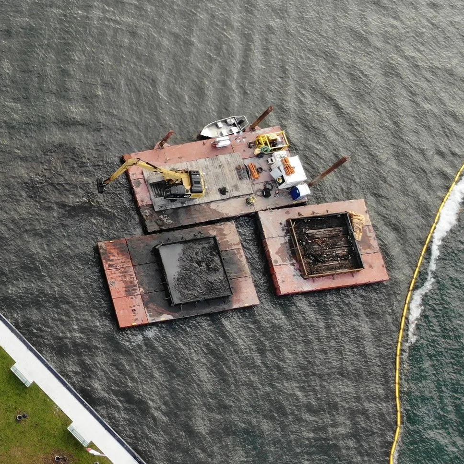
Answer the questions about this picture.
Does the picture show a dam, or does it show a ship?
ship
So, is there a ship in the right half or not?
Yes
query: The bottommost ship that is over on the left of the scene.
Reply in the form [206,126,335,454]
[95,223,259,330]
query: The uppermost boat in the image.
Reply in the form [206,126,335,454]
[198,115,245,139]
